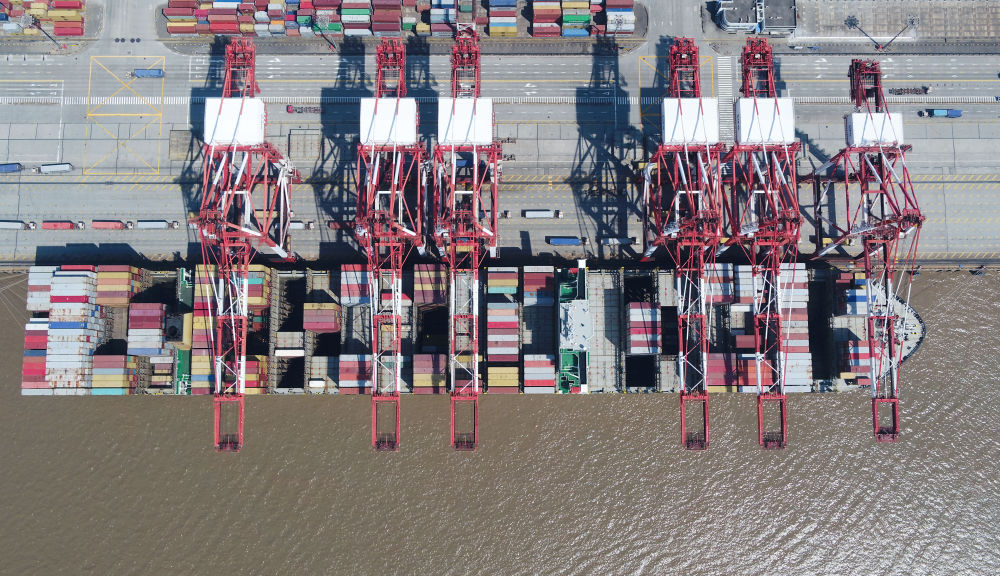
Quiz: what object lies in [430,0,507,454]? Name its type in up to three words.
container crane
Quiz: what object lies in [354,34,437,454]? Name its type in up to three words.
container crane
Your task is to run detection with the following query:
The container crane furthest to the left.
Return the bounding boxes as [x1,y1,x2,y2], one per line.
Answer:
[197,34,306,454]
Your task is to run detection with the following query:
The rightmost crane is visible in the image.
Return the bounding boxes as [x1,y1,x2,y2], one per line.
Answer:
[791,56,929,444]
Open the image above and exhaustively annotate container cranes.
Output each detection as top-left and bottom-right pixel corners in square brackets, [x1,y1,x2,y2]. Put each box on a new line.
[699,34,807,454]
[630,34,731,454]
[791,56,929,444]
[430,0,507,454]
[354,34,437,454]
[197,34,306,454]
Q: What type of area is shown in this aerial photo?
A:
port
